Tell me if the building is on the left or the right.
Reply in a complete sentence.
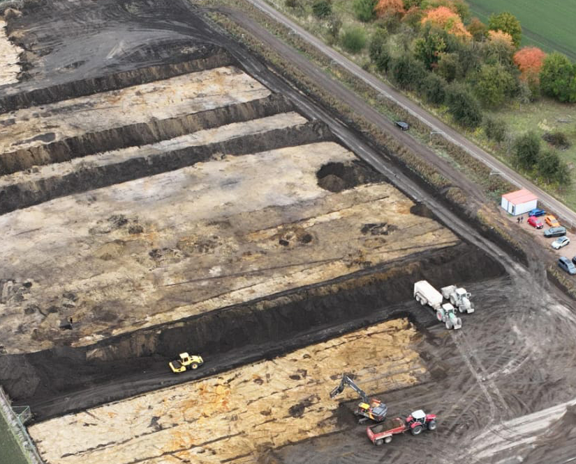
The building appears in the right half of the scene.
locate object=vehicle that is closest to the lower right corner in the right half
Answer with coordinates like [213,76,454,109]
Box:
[409,412,441,434]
